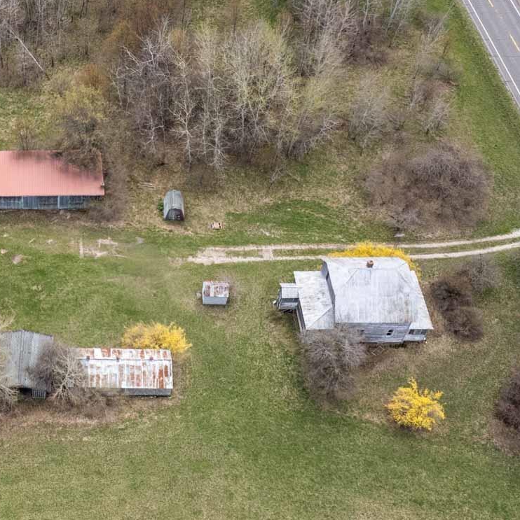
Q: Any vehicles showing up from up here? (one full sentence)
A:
No, I can't see a single vehicle in this photo.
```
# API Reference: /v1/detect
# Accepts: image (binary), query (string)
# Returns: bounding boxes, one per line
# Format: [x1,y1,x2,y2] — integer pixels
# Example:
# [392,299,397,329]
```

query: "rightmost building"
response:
[271,257,434,343]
